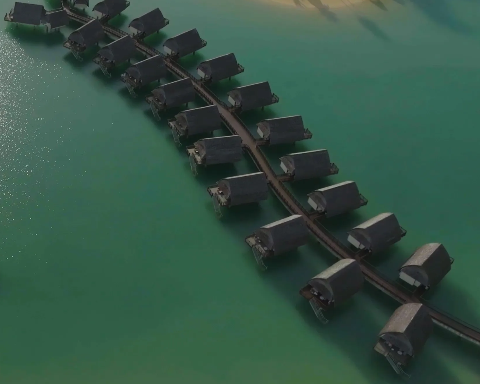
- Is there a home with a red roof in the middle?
No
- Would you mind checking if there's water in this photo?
Yes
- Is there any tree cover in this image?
No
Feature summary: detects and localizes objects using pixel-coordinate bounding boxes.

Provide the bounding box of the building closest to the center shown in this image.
[200,170,268,214]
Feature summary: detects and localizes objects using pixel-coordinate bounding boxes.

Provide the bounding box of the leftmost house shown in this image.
[1,1,47,31]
